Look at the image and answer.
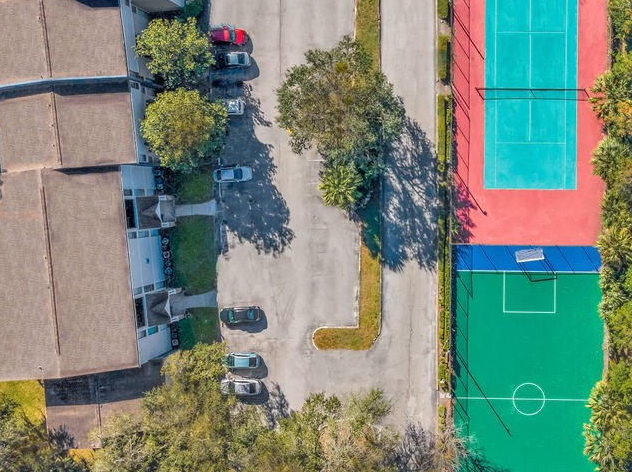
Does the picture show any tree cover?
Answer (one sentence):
Yes, there is tree cover in the image.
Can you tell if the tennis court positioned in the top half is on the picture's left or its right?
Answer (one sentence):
The tennis court positioned in the top half is on the right side of the image.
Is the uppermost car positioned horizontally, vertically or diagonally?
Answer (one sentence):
The uppermost car has been laid out horizontally relative to the frame.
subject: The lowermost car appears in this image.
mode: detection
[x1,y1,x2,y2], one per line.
[221,377,264,397]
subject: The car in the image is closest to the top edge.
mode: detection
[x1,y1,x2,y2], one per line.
[210,26,250,46]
